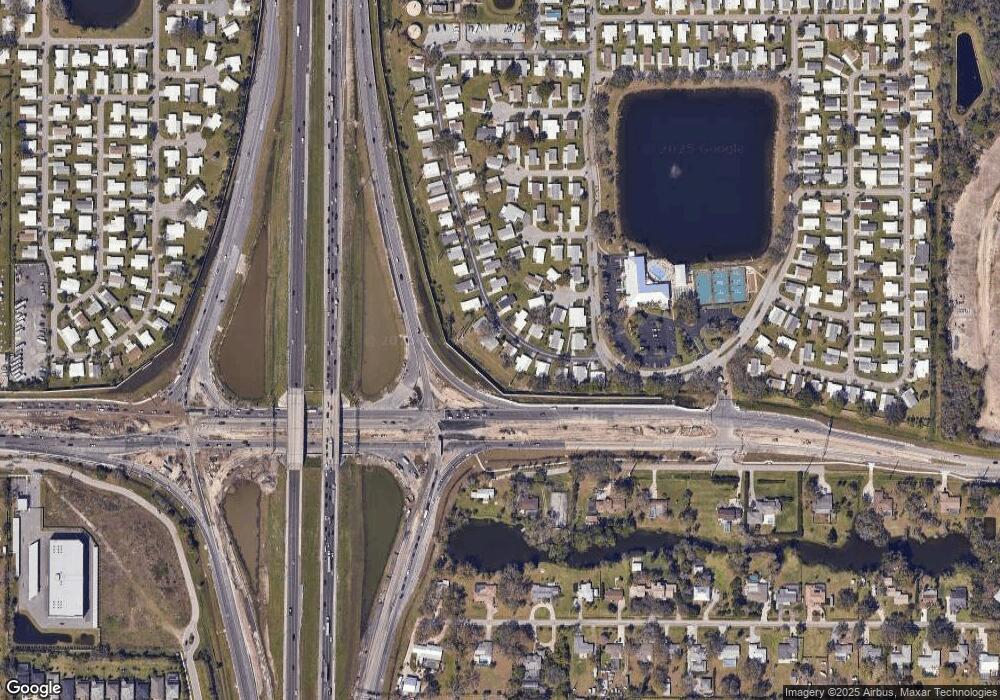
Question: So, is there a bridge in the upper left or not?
No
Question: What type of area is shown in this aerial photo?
residential area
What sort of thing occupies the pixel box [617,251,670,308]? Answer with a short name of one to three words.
building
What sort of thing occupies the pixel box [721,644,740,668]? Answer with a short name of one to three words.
house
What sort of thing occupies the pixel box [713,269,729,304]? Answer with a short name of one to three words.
tennis court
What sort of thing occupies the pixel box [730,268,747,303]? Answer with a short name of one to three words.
tennis court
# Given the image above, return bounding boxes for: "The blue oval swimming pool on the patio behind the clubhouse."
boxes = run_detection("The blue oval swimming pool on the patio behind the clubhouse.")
[648,263,667,280]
